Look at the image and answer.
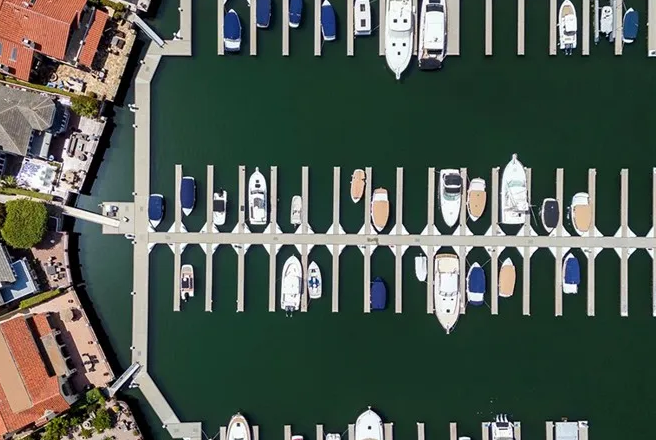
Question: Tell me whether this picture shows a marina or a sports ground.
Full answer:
This looks like a marina.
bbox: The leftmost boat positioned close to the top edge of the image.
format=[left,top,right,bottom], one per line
[224,3,249,52]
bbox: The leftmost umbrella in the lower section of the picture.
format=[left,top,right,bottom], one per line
[62,307,76,321]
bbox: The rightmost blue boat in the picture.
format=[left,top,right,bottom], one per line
[620,0,639,46]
